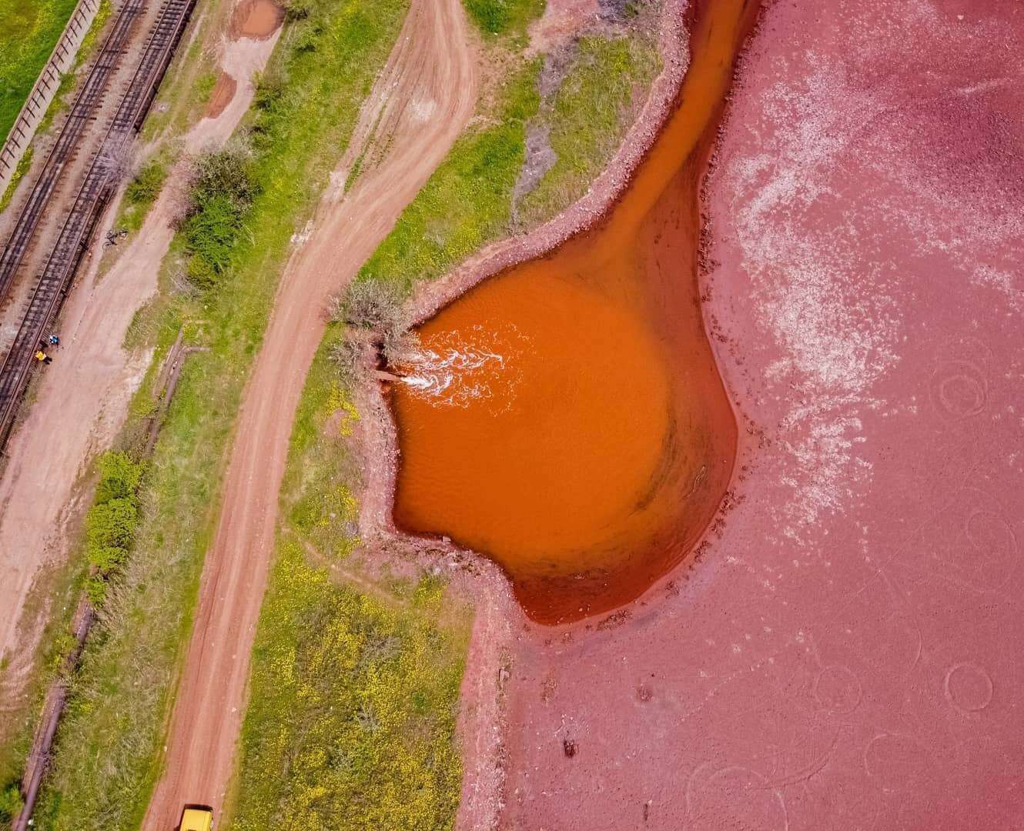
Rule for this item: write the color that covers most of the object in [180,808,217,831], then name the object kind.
yellow vehicle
